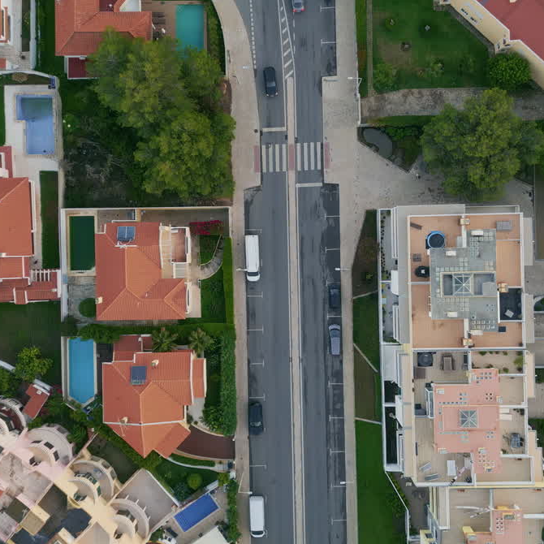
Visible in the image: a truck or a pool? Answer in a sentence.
This aerial view contains a pool.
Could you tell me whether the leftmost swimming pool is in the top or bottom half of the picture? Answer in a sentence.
You can find the leftmost swimming pool in the top half.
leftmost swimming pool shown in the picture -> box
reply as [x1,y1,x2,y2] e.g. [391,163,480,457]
[12,91,58,157]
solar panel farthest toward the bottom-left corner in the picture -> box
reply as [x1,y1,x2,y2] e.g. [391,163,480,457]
[131,366,146,381]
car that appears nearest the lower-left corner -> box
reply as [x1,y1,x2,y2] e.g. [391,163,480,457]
[249,494,265,536]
